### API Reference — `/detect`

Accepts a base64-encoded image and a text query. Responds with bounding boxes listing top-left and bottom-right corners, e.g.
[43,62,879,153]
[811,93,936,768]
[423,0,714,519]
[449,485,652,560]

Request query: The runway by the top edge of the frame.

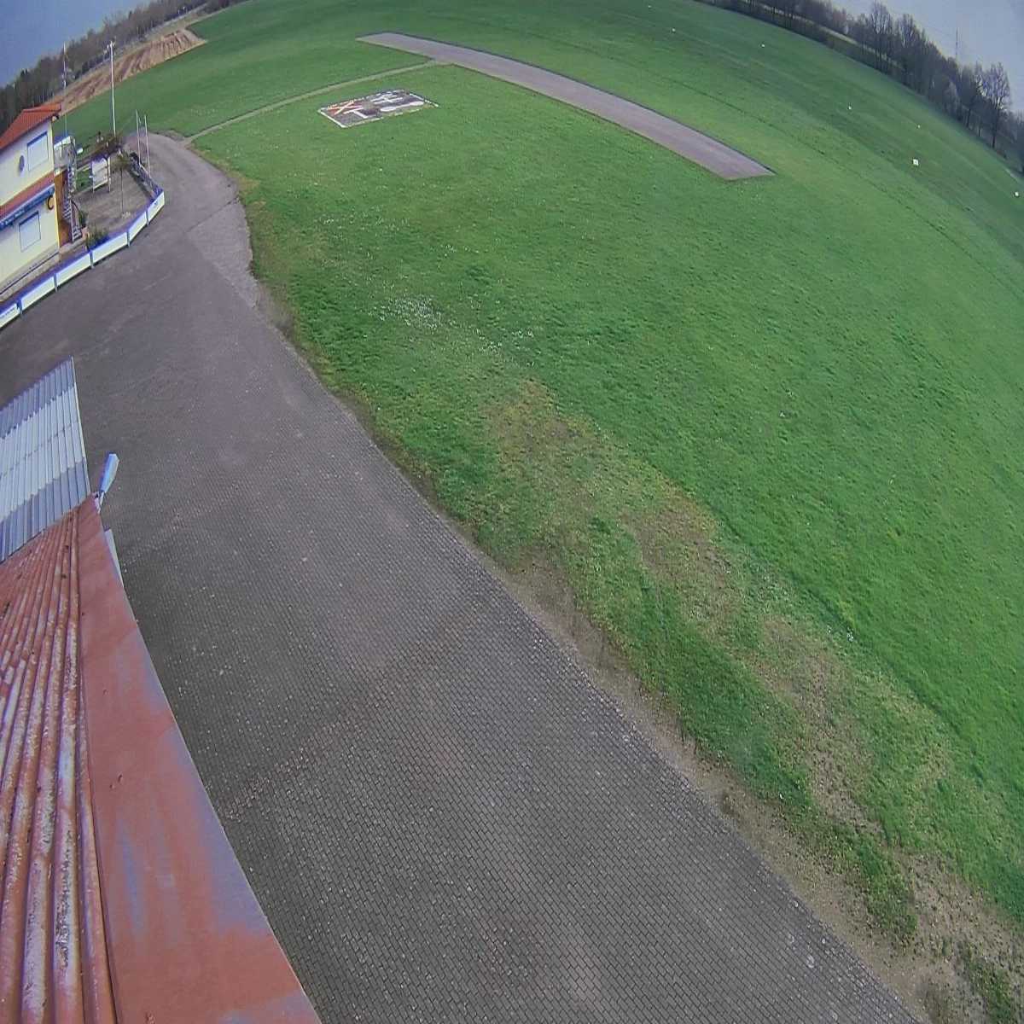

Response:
[358,33,772,179]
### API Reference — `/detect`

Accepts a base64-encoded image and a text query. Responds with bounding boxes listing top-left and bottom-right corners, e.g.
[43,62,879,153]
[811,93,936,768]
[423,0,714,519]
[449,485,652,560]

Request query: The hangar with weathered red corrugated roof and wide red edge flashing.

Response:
[0,498,327,1024]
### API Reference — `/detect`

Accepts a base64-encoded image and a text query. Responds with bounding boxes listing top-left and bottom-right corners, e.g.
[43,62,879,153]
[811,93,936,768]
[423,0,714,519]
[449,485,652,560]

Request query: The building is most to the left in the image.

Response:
[0,104,77,283]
